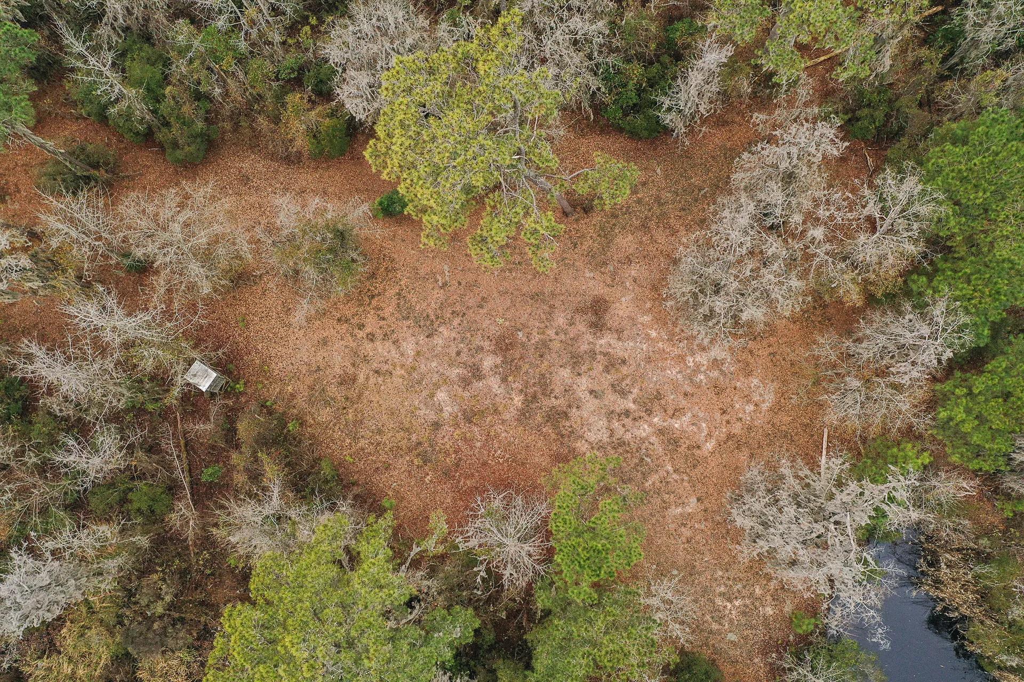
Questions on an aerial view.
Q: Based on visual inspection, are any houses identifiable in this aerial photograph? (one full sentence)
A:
No, I can see no house in this picture.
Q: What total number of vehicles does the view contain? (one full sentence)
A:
The picture shows no vehicles.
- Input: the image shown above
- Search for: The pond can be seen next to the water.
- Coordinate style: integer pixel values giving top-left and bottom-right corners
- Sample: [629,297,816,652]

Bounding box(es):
[816,523,995,682]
